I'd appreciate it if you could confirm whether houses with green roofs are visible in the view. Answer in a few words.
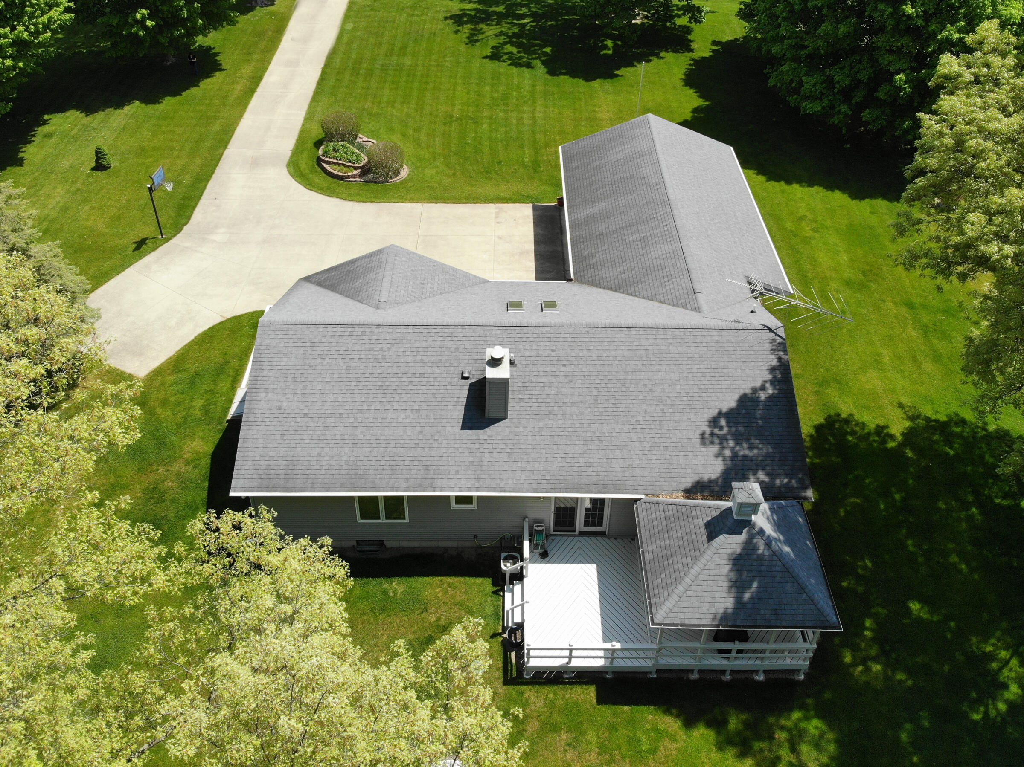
No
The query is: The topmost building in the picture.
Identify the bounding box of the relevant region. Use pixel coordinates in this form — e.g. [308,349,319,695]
[229,114,815,557]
